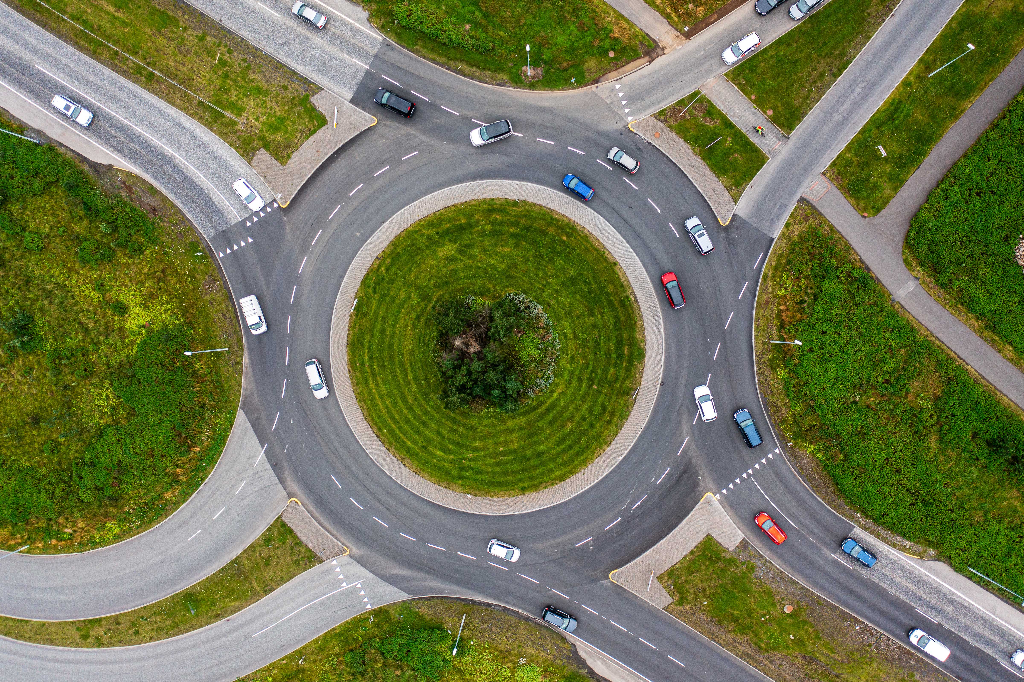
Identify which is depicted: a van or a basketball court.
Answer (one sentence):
There is a van in the scene.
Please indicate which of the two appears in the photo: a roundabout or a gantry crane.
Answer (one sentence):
This aerial view contains a roundabout.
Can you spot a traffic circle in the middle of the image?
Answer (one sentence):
Yes, a traffic circle shows up in the middle of the image.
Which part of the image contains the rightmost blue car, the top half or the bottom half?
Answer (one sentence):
The rightmost blue car is in the bottom half of the image.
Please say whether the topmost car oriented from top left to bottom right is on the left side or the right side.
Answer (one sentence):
The topmost car oriented from top left to bottom right is on the left side of the image.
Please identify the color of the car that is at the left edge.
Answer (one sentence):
The color of the car that is at the left edge is white.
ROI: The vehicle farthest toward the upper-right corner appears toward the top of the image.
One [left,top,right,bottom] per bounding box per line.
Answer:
[787,0,827,21]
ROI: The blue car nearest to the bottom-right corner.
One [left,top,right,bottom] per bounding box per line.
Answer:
[840,537,879,570]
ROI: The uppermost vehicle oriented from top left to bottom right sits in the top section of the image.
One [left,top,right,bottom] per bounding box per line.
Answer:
[291,1,328,30]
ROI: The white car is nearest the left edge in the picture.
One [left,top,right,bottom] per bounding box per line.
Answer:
[50,93,95,126]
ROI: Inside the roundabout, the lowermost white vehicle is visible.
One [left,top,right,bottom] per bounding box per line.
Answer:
[487,539,521,563]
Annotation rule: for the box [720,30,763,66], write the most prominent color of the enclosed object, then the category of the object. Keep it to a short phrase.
white car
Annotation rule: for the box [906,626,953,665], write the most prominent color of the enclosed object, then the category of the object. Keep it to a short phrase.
white van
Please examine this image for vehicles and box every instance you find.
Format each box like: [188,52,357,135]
[840,537,879,570]
[607,147,641,174]
[693,385,717,423]
[541,606,578,634]
[561,173,596,202]
[291,1,328,30]
[469,118,513,147]
[238,294,267,337]
[303,358,329,400]
[684,215,715,255]
[787,0,827,21]
[906,626,953,665]
[753,511,788,546]
[661,271,687,310]
[373,87,418,119]
[720,30,763,66]
[1009,649,1024,670]
[734,408,764,449]
[50,93,95,126]
[487,539,521,563]
[231,176,266,212]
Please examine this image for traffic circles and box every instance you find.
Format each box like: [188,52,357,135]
[219,69,873,605]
